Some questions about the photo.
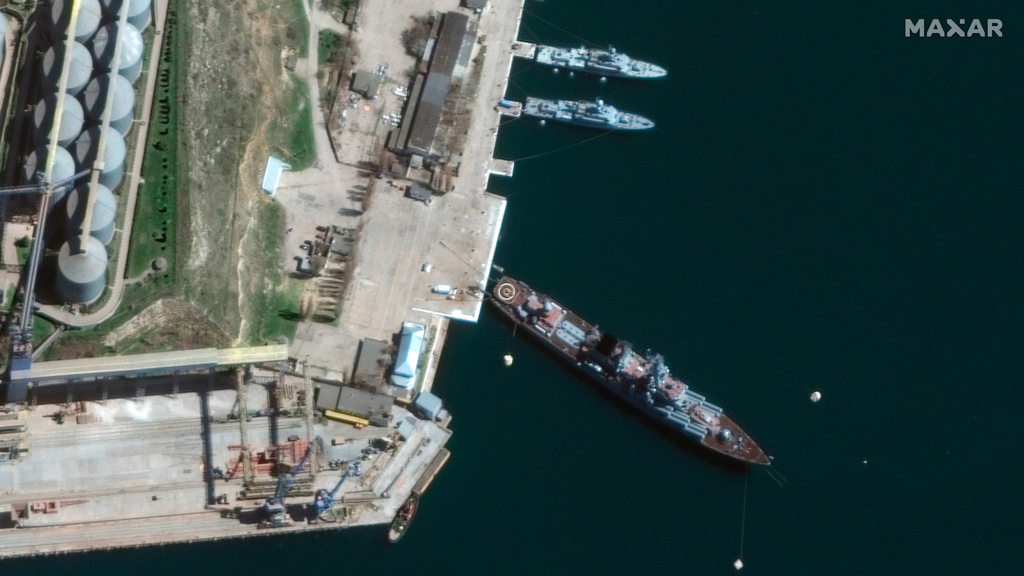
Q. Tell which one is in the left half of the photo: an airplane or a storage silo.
storage silo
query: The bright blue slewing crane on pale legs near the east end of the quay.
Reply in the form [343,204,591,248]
[313,456,363,523]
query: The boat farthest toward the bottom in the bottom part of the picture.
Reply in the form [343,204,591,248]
[387,492,421,545]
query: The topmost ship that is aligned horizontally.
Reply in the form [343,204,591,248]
[536,46,668,79]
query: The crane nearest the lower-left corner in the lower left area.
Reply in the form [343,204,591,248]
[0,410,28,467]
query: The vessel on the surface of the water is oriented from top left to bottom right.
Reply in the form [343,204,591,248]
[491,276,771,474]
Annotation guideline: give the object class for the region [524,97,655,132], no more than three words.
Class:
ship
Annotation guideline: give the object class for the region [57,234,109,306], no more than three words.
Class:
silo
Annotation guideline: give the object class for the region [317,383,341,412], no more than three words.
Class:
building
